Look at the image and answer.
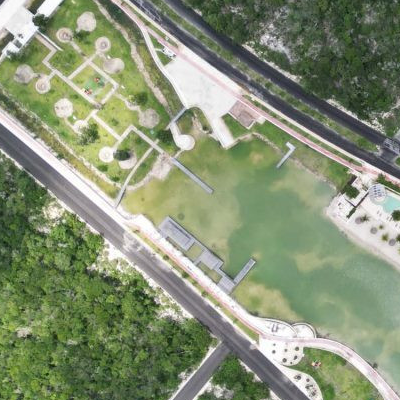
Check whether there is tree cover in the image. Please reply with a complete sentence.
Yes, tree cover shows up in the scene.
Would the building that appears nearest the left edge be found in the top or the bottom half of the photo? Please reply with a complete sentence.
You can find the building that appears nearest the left edge in the top half.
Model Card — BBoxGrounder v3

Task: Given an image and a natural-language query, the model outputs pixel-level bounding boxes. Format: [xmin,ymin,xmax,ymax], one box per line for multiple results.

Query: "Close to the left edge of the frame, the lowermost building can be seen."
[2,28,41,55]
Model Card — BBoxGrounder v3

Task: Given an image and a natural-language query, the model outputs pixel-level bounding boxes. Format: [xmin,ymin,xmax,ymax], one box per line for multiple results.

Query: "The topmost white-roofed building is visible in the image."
[37,0,67,18]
